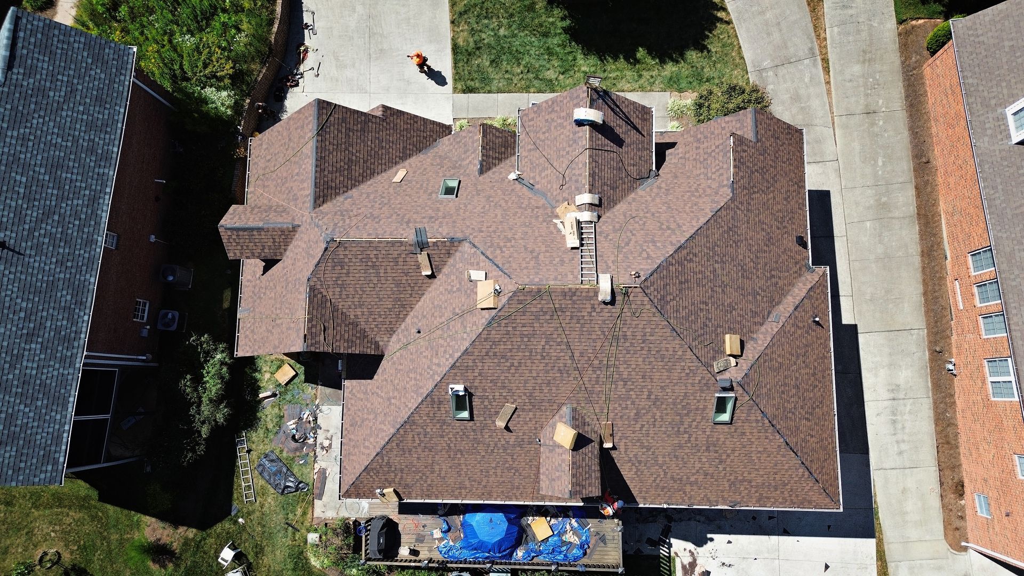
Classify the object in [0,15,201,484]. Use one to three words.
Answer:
house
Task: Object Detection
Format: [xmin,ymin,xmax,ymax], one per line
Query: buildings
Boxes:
[0,15,201,484]
[218,85,842,513]
[925,0,1024,571]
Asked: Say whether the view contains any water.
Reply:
No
